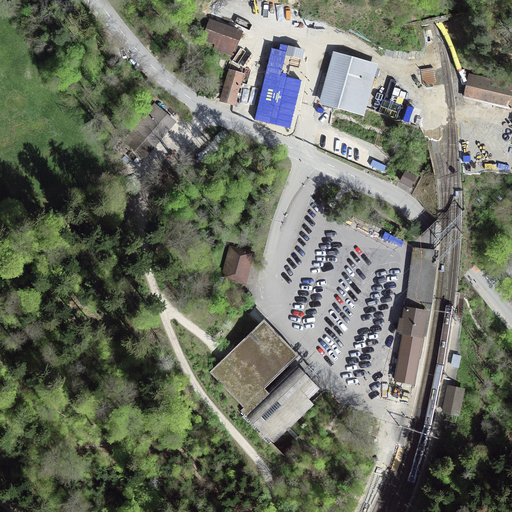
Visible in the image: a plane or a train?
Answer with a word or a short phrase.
train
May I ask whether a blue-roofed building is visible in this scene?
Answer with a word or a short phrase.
Yes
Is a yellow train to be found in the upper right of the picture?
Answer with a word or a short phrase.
Yes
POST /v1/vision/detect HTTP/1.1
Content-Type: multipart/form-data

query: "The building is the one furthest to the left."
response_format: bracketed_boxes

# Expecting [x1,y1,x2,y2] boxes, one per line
[124,104,176,158]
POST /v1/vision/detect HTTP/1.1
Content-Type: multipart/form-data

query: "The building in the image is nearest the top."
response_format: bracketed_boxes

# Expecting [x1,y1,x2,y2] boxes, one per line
[205,19,242,56]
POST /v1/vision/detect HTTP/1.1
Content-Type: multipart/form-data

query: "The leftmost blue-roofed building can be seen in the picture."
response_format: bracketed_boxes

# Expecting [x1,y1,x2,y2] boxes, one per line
[256,44,304,128]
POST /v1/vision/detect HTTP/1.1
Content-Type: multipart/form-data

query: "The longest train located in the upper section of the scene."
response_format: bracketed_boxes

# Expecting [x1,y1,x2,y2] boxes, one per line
[437,22,467,85]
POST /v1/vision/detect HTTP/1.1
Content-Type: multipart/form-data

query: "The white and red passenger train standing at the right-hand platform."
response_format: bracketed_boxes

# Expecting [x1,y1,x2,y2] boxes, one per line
[408,304,454,482]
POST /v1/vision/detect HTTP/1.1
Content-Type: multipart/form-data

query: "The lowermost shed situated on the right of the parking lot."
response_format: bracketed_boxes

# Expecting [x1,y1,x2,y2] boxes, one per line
[443,386,464,416]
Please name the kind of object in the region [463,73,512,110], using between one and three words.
shed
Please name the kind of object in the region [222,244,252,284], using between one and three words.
house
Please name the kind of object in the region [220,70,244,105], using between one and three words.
house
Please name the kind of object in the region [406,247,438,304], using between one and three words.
building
